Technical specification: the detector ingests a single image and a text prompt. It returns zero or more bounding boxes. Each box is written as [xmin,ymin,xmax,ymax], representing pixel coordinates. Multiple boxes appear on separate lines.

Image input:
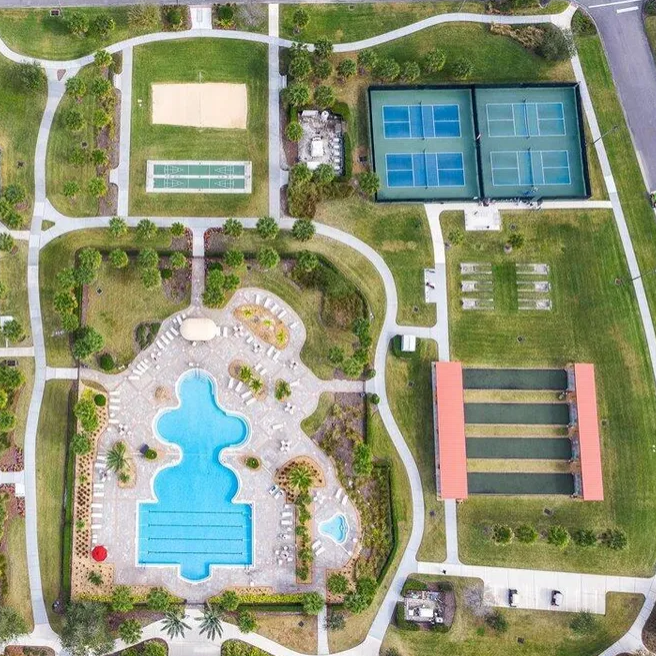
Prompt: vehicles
[549,592,562,610]
[648,191,656,207]
[508,592,520,610]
